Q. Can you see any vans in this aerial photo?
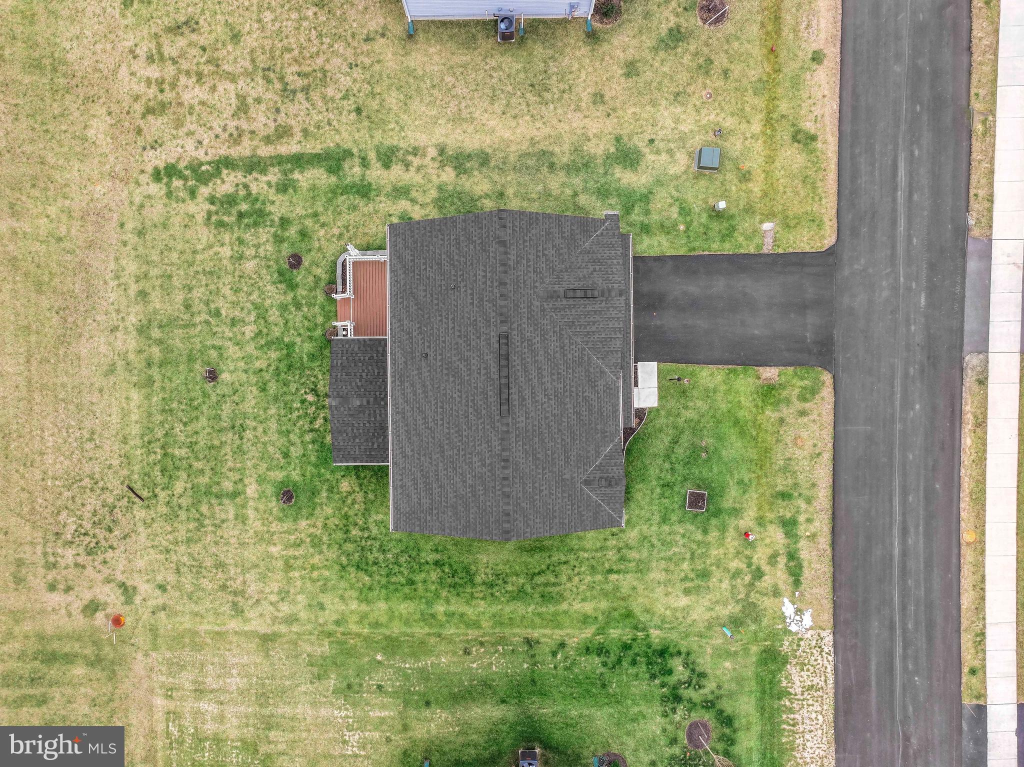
No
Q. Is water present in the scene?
No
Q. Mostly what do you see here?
grass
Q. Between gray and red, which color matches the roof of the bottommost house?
gray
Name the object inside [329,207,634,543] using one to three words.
house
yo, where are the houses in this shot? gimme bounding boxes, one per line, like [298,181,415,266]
[401,0,596,27]
[329,207,634,543]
